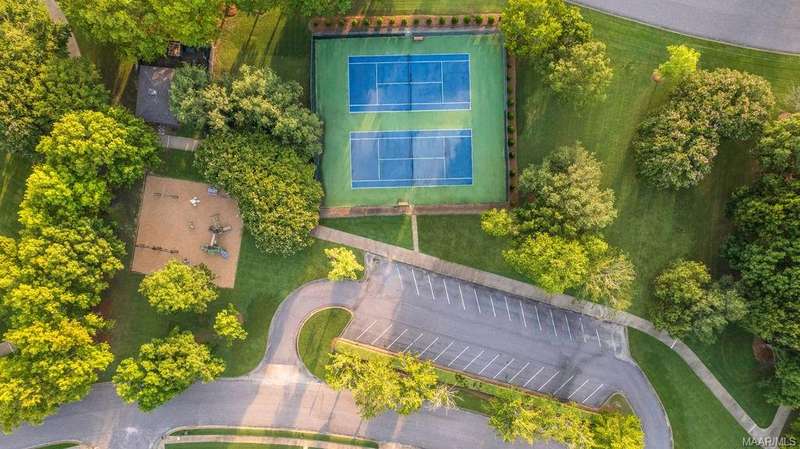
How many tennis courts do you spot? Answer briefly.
2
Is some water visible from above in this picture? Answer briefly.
No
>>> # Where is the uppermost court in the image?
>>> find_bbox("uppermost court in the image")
[316,36,505,123]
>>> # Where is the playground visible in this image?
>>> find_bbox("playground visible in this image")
[131,176,243,289]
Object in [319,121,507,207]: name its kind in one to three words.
tennis court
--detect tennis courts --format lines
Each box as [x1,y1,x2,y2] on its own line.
[319,121,507,207]
[316,36,505,123]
